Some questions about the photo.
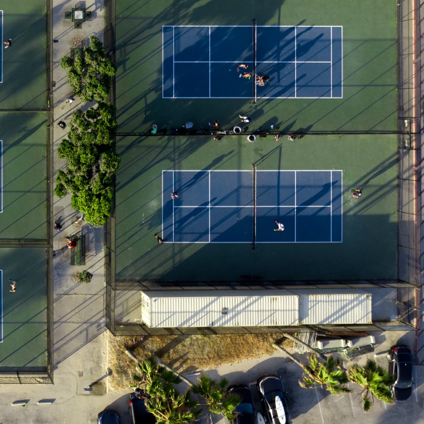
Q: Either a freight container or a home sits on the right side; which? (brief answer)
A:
freight container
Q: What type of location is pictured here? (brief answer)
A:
sports ground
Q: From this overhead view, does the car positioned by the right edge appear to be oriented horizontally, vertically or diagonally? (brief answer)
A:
vertically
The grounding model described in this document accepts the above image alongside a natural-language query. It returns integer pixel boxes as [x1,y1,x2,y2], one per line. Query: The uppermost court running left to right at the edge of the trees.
[108,0,396,133]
